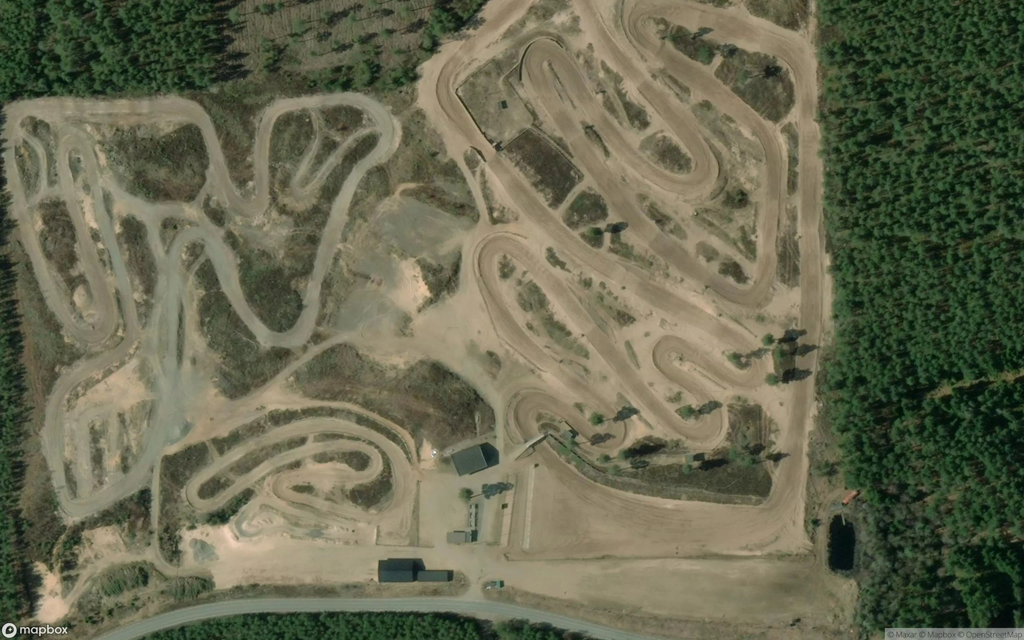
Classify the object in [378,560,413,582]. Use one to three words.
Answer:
building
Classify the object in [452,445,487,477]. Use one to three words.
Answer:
building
